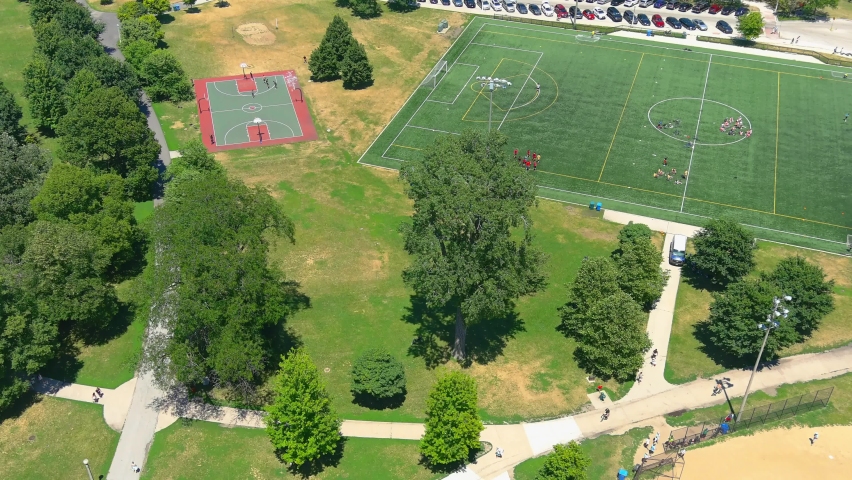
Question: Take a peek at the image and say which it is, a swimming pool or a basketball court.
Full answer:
The one in the frame is a basketball court.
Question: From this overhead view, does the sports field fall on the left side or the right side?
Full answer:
The sports field sits on the right side.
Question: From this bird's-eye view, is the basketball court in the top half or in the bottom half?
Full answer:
The basketball court sits in the top half of the picture.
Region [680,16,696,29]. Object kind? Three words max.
vehicle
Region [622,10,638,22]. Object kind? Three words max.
vehicle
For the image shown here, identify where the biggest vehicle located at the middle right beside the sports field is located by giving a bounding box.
[672,230,690,264]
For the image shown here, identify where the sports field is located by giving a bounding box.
[366,17,852,244]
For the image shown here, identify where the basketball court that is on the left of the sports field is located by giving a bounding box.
[193,70,319,151]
